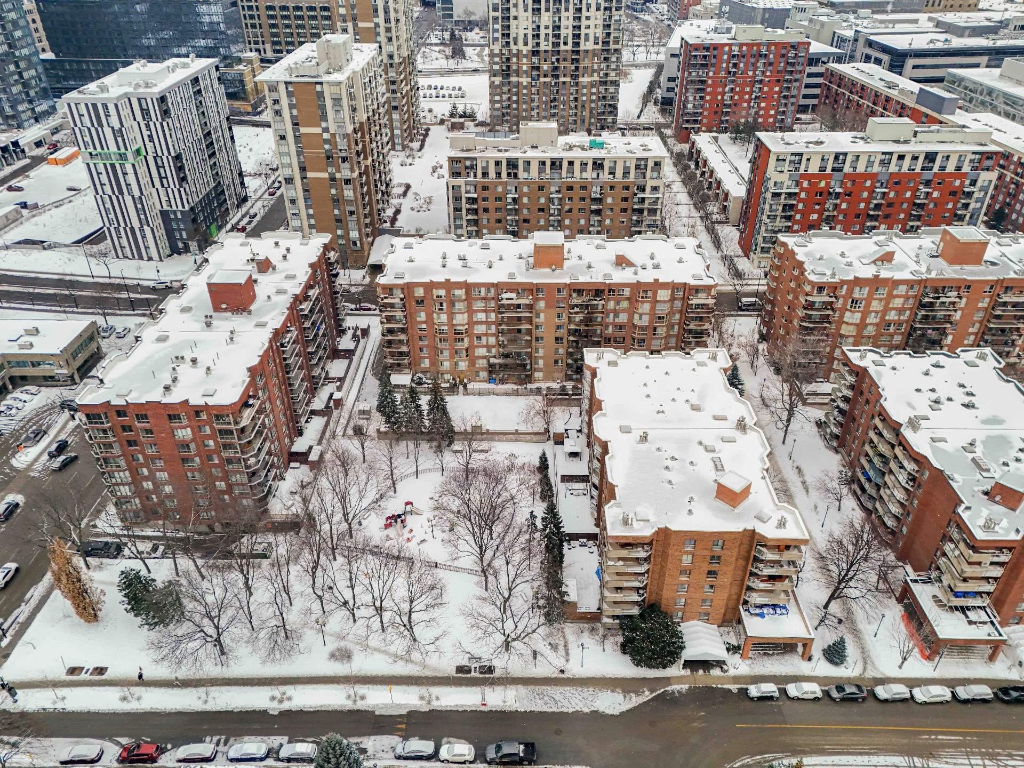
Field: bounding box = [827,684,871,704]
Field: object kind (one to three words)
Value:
car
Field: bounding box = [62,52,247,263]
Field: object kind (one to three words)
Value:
building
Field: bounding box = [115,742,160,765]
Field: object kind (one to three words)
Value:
car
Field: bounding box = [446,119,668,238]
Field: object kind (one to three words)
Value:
building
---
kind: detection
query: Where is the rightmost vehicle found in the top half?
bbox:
[737,296,762,308]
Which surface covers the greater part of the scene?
buildings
